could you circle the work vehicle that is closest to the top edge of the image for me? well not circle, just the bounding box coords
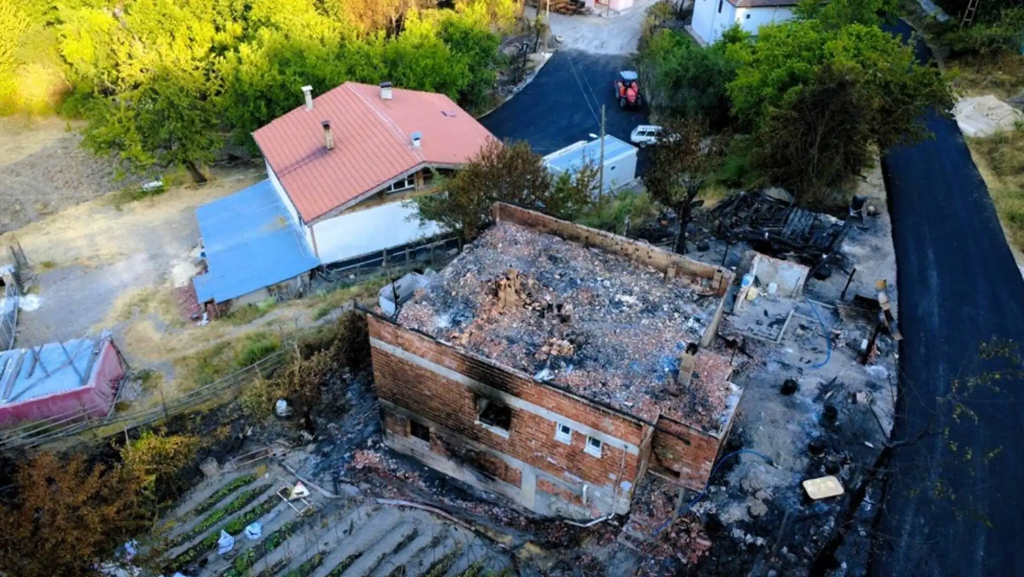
[617,71,643,113]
